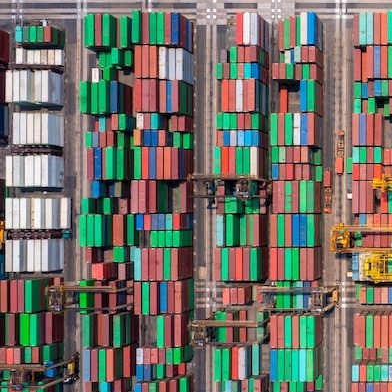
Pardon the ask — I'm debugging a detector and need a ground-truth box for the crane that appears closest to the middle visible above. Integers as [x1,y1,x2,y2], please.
[186,173,278,204]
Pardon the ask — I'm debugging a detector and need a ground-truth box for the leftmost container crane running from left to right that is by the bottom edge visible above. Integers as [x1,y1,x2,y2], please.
[0,350,83,392]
